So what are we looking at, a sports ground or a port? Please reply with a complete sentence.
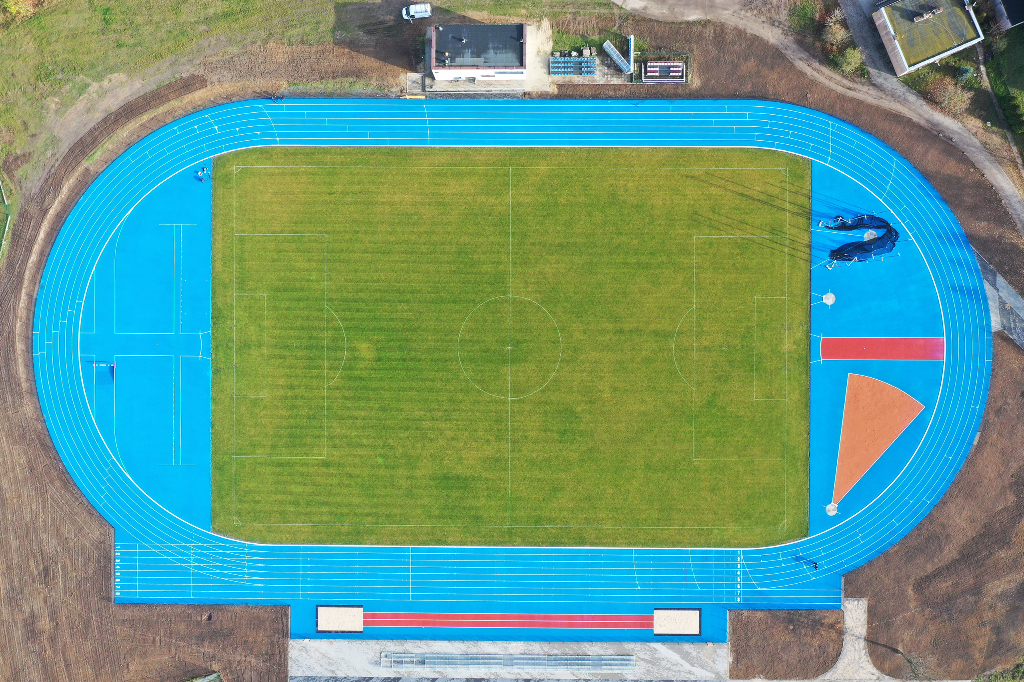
The area seen from above is a sports ground.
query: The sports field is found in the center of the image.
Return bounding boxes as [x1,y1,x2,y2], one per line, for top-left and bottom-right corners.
[211,147,811,547]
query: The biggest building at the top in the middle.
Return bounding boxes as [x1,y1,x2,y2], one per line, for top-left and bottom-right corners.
[431,23,526,88]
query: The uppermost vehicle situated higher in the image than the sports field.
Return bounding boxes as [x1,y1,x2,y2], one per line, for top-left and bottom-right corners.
[402,3,433,23]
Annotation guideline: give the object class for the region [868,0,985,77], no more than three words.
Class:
house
